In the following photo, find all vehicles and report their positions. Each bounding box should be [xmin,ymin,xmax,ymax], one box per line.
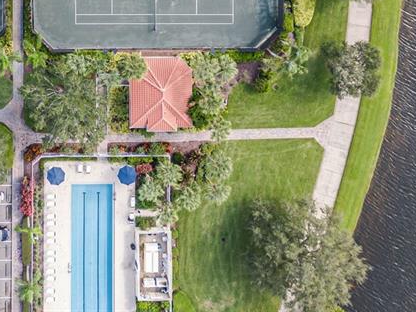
[0,226,10,244]
[0,189,6,203]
